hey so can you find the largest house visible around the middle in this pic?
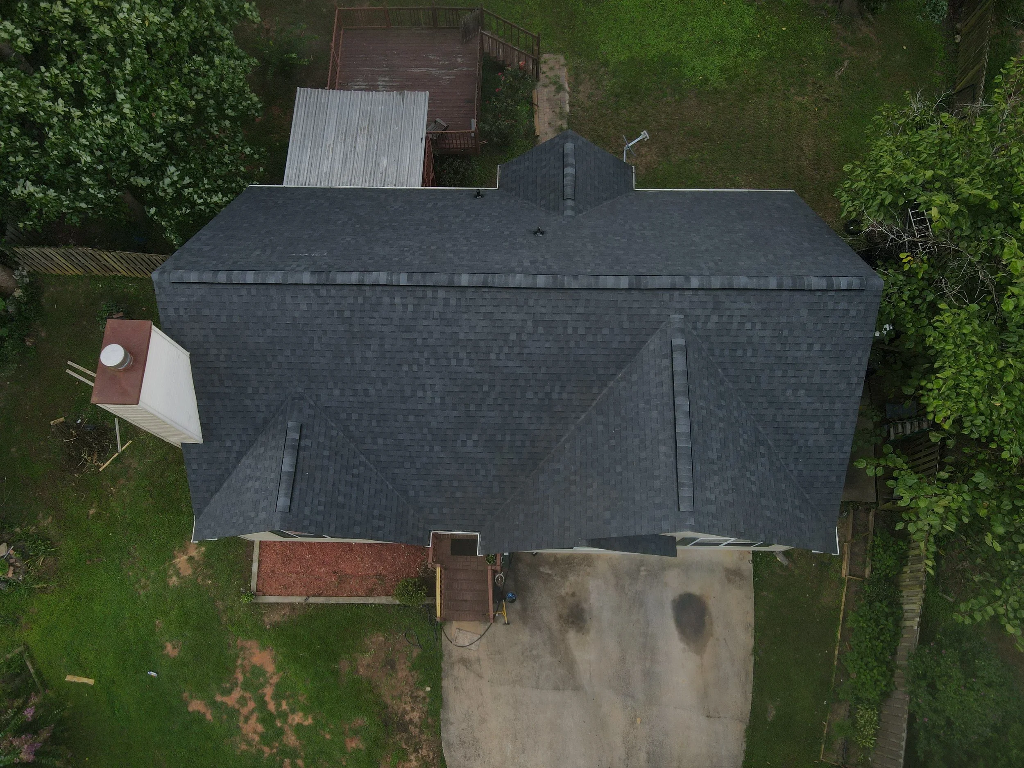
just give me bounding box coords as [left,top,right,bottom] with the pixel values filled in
[89,130,884,557]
